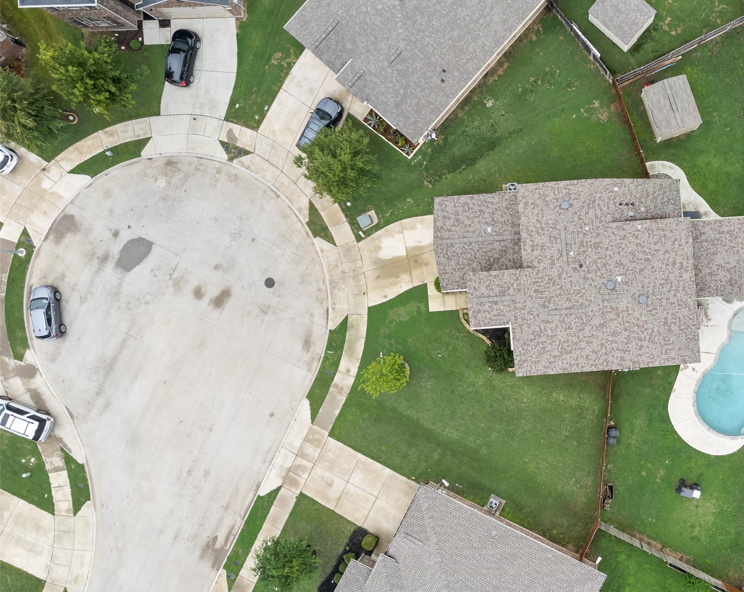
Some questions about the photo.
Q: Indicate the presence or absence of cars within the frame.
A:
Yes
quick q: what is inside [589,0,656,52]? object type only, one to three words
shed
